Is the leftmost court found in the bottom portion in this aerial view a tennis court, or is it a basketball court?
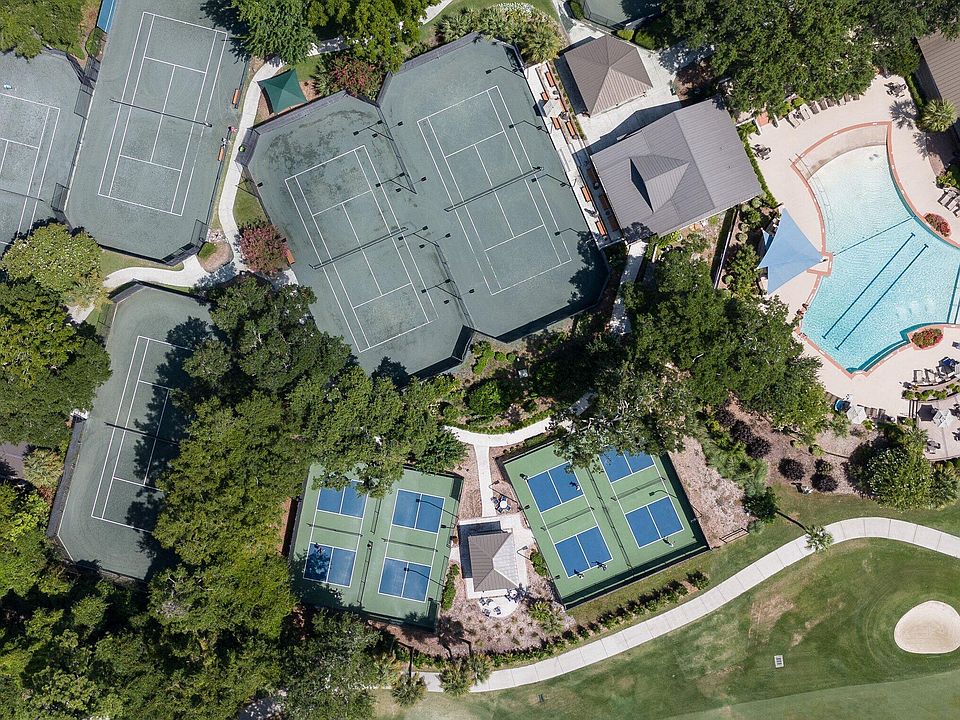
tennis court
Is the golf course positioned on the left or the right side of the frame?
right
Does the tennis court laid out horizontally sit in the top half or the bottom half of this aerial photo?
top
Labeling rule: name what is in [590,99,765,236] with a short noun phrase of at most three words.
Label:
building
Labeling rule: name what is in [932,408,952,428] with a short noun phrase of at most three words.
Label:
umbrella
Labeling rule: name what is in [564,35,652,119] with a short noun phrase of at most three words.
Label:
building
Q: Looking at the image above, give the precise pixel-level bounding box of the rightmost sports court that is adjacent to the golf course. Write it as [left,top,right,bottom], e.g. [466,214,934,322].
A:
[579,408,709,579]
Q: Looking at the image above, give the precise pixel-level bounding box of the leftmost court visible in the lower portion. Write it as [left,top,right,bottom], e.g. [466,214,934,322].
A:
[60,286,240,580]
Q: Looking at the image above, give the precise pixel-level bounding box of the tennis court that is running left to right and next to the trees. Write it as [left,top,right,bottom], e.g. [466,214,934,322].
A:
[585,0,668,28]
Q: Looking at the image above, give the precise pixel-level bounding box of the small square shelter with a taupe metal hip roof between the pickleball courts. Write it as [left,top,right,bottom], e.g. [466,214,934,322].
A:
[469,530,519,592]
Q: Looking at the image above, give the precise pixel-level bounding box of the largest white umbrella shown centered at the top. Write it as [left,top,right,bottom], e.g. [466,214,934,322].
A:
[539,97,562,120]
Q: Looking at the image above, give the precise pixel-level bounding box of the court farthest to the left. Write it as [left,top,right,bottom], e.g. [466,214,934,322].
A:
[0,50,83,285]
